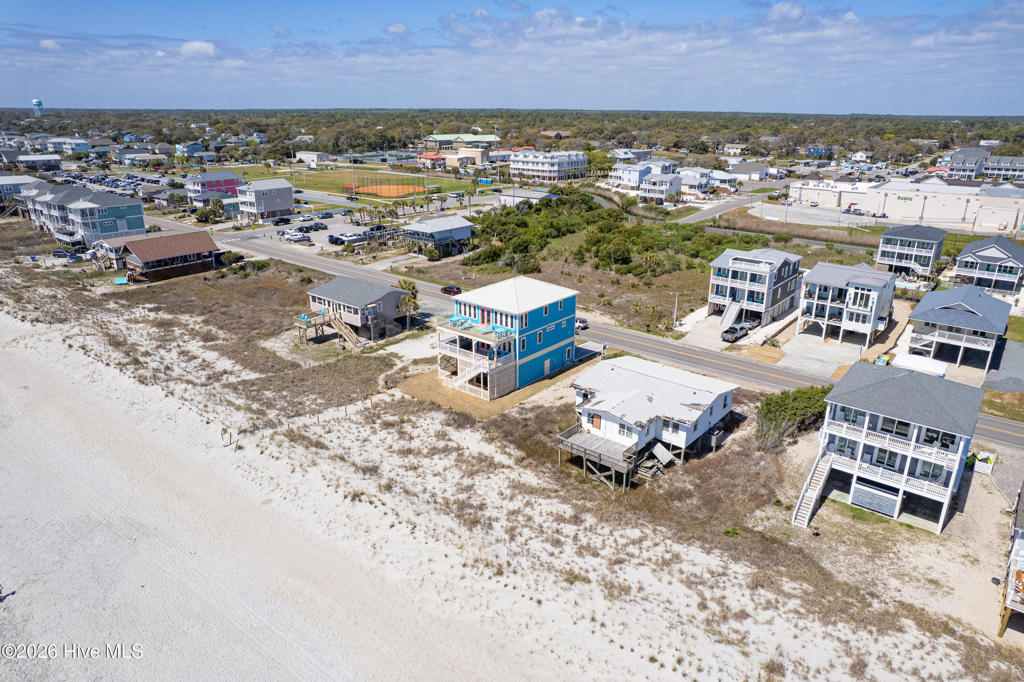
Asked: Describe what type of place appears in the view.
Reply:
residential area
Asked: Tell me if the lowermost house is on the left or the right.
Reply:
right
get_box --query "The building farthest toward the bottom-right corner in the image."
[986,495,1024,636]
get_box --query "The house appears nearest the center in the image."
[435,276,582,401]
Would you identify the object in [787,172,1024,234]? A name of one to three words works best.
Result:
building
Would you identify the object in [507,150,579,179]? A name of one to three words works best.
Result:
building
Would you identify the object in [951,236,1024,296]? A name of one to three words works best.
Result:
house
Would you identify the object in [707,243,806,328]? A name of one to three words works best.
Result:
house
